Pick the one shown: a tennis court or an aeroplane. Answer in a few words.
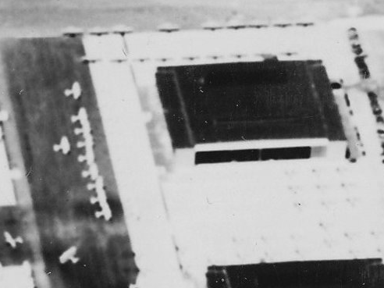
aeroplane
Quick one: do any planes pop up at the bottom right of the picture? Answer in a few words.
No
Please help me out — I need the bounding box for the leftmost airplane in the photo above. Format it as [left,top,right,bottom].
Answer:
[4,233,23,249]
